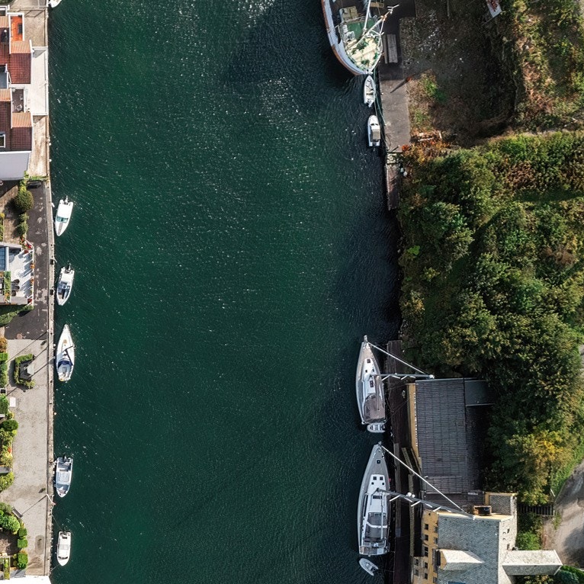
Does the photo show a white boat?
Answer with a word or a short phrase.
Yes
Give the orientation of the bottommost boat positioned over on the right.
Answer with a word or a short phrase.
at an angle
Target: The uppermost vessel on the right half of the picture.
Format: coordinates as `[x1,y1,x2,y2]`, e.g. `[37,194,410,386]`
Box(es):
[322,0,392,79]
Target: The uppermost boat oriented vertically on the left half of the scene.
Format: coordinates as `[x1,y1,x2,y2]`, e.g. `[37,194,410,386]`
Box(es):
[55,194,74,236]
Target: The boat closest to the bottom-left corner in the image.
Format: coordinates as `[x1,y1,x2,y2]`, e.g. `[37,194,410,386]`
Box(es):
[57,526,70,564]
